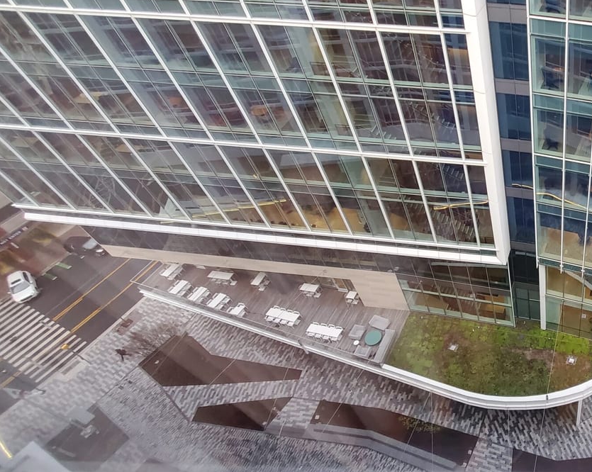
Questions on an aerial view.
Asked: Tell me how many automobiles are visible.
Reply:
2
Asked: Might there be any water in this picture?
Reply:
No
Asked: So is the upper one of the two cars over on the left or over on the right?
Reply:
left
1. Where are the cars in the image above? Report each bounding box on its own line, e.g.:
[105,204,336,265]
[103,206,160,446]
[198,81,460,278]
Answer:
[70,236,103,264]
[6,270,38,306]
